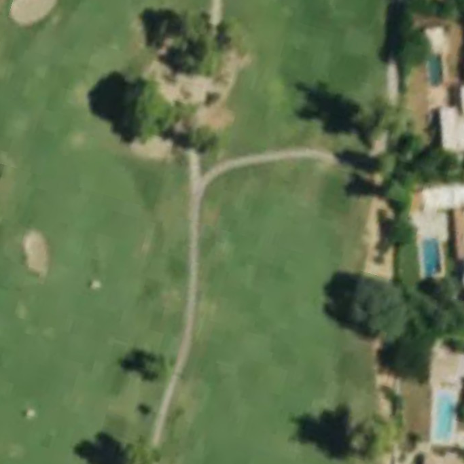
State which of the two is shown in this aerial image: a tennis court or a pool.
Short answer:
pool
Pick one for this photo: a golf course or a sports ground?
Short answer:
golf course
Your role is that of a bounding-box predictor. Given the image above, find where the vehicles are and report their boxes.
[92,280,98,289]
[28,408,33,416]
